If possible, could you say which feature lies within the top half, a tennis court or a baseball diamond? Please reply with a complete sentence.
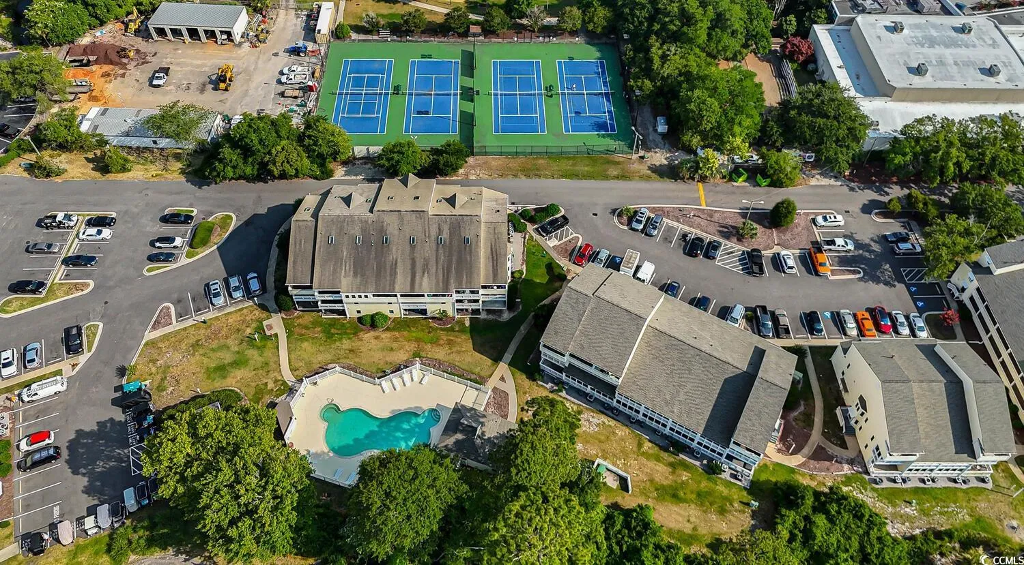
Visible within the top half is a tennis court.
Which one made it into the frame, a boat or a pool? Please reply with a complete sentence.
This aerial view contains a pool.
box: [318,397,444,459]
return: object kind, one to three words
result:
swimming pool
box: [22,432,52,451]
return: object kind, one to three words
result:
car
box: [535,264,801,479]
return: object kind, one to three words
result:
building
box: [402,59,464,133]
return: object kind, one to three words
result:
tennis court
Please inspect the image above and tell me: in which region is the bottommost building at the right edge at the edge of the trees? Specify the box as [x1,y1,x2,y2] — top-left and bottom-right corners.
[830,340,1015,477]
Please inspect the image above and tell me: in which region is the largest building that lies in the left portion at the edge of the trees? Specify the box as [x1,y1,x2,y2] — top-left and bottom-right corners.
[286,173,512,323]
